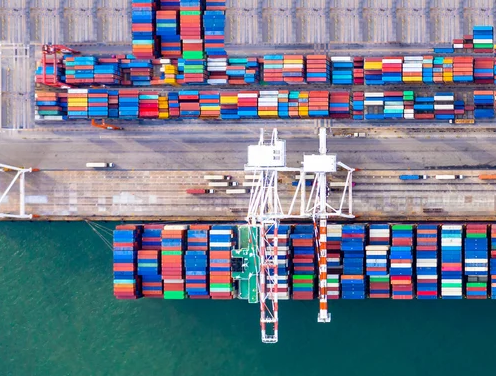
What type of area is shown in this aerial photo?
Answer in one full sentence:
The picture captures a port.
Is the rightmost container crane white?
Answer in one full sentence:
Yes, white is the color of the rightmost container crane.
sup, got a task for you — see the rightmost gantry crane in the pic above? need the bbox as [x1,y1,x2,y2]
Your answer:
[304,128,362,323]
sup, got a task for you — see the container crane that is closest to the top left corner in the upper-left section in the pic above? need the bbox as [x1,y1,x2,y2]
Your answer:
[42,43,79,89]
